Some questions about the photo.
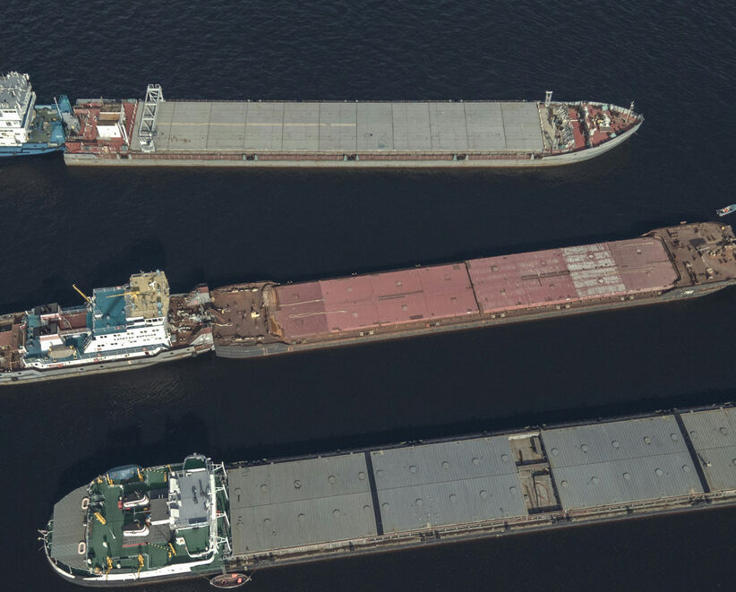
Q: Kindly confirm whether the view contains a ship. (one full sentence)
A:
Yes, this view includes a ship.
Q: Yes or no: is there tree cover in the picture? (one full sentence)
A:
No, there's no tree cover in this view.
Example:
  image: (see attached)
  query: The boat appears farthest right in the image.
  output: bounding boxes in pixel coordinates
[716,205,736,217]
